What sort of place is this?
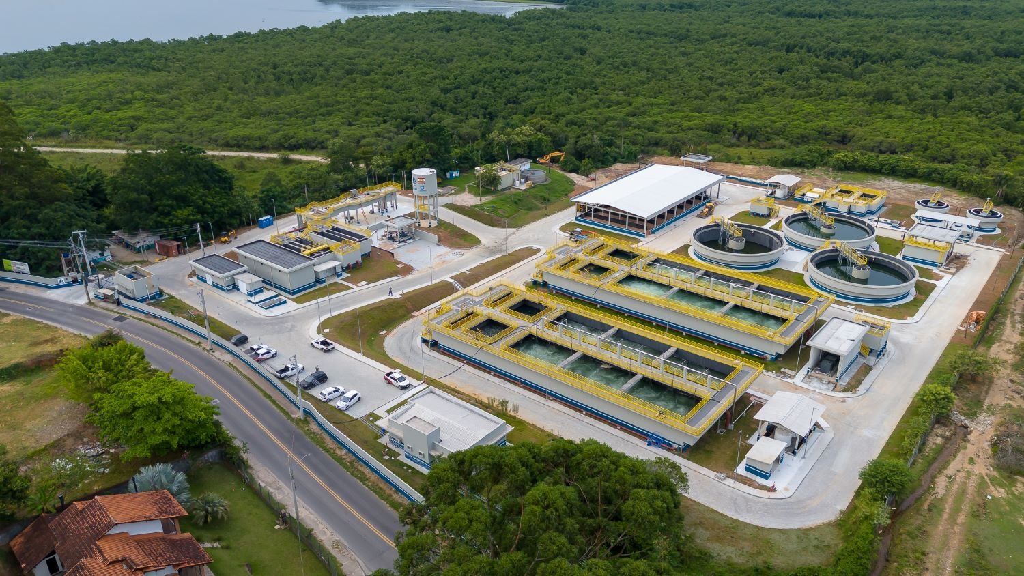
industrial area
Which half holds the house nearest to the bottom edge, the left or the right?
left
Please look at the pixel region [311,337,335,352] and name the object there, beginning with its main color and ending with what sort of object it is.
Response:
white vehicle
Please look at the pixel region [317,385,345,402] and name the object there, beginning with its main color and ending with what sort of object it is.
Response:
white car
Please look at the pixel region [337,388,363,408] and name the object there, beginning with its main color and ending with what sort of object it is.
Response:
white car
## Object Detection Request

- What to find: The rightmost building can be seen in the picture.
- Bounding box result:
[902,222,961,266]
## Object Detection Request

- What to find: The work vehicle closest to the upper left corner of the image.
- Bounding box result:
[219,229,240,243]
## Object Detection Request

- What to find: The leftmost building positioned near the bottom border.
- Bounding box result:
[7,486,221,576]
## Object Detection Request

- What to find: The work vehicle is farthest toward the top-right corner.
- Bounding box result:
[696,200,718,217]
